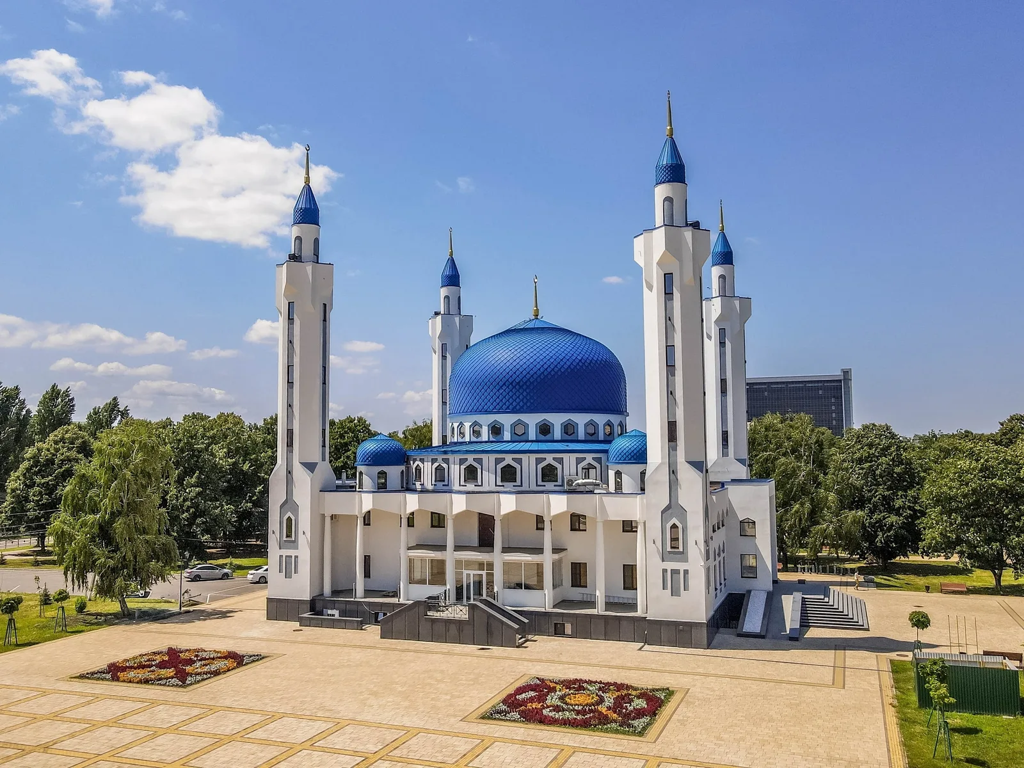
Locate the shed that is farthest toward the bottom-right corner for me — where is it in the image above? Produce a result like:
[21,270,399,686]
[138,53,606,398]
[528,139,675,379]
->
[908,651,1020,716]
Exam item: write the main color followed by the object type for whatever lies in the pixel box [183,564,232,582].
gray car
